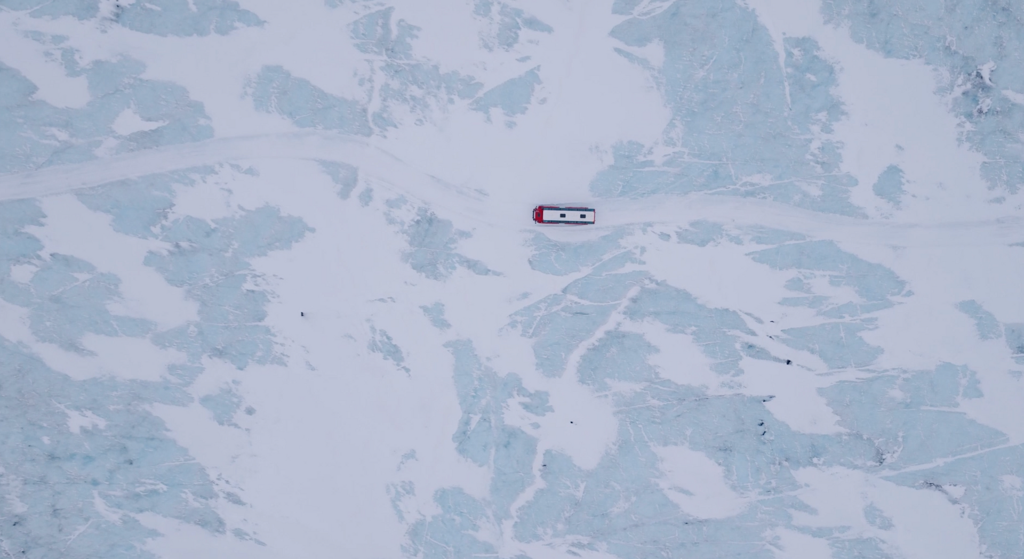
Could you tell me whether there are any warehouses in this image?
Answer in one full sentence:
No, I can't see a single warehouse in this photo.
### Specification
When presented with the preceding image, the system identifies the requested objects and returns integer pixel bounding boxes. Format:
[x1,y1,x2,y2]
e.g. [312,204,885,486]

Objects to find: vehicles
[533,206,596,225]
